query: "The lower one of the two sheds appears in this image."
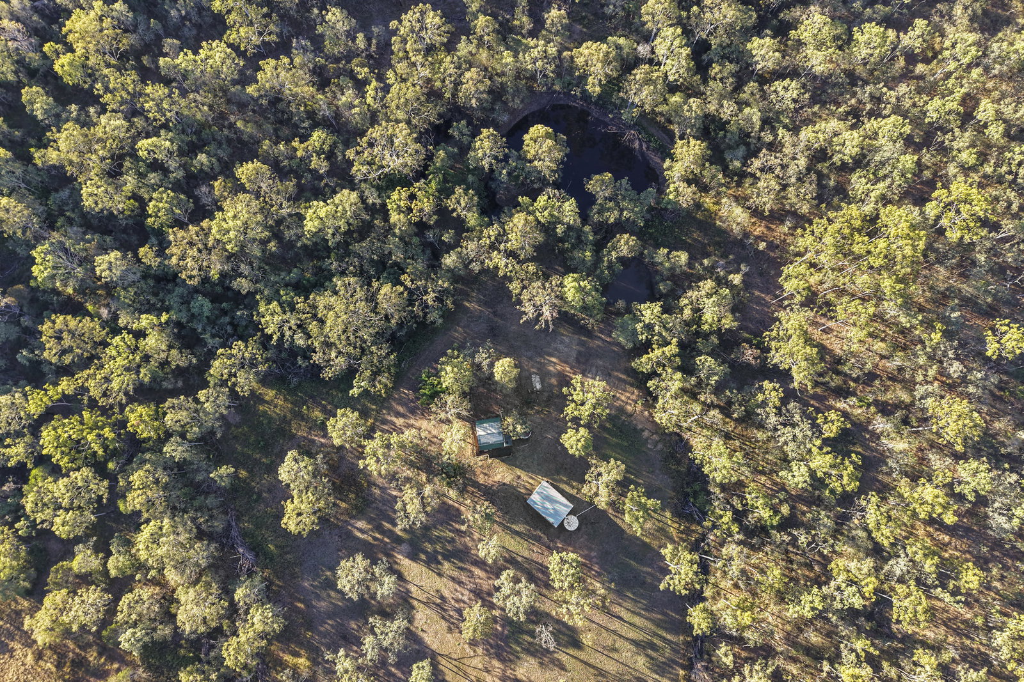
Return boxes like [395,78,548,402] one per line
[526,481,574,528]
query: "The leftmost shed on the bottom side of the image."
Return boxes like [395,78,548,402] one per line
[472,413,513,464]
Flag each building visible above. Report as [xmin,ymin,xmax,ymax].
[472,413,513,464]
[526,481,574,528]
